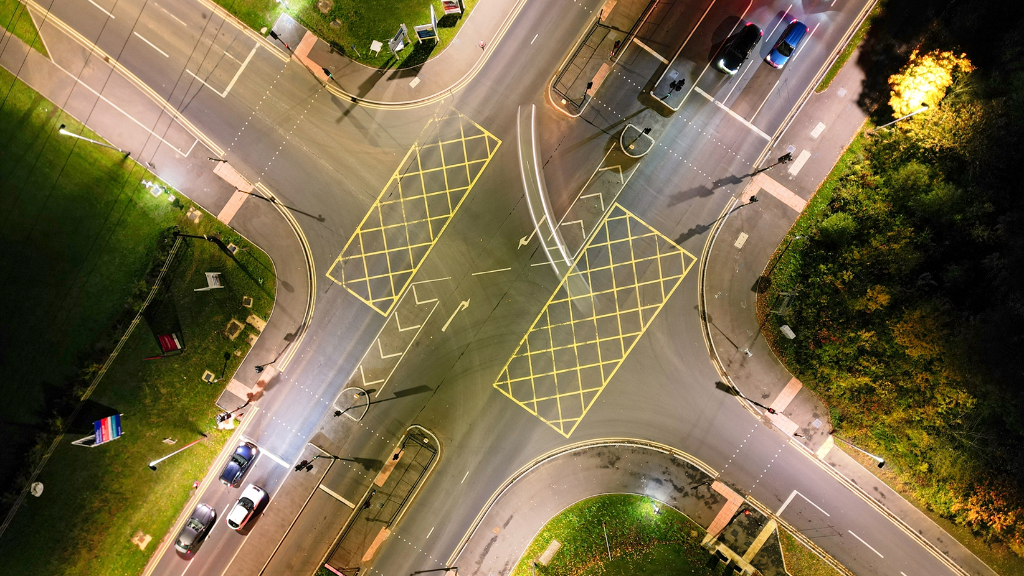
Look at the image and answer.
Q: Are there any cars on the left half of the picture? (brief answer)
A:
Yes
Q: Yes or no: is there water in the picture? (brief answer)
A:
No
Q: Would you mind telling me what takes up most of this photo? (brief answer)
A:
paved ground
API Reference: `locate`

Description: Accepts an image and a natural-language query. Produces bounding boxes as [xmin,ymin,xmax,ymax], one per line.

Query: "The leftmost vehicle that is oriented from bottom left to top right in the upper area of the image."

[716,19,765,78]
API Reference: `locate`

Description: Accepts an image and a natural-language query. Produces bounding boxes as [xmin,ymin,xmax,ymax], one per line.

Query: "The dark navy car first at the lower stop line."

[218,437,263,490]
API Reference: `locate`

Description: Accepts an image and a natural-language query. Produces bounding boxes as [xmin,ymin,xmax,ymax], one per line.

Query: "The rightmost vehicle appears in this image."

[765,16,811,71]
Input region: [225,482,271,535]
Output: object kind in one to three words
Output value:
car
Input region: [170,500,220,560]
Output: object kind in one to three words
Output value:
car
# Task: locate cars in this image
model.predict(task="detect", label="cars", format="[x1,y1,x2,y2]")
[225,482,271,535]
[218,437,263,490]
[716,19,765,78]
[765,16,811,71]
[170,500,220,560]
